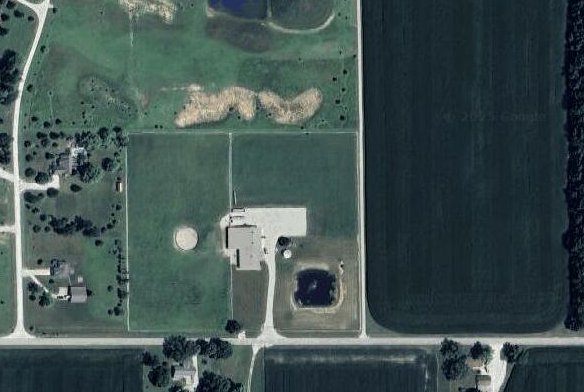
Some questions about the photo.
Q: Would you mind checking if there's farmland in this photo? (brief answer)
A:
Yes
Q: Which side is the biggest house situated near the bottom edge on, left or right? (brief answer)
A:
left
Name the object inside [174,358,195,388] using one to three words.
house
